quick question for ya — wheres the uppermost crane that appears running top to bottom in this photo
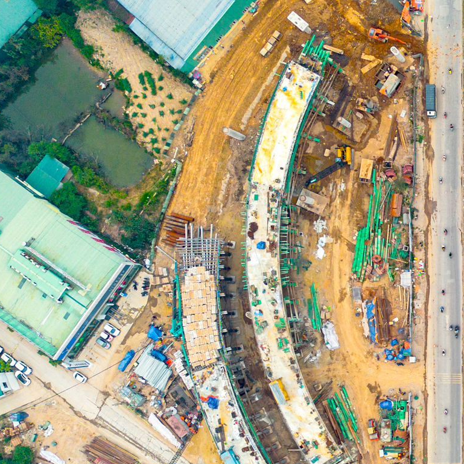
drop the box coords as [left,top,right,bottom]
[170,273,187,352]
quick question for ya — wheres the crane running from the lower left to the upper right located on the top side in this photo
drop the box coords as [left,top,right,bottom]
[304,144,360,187]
